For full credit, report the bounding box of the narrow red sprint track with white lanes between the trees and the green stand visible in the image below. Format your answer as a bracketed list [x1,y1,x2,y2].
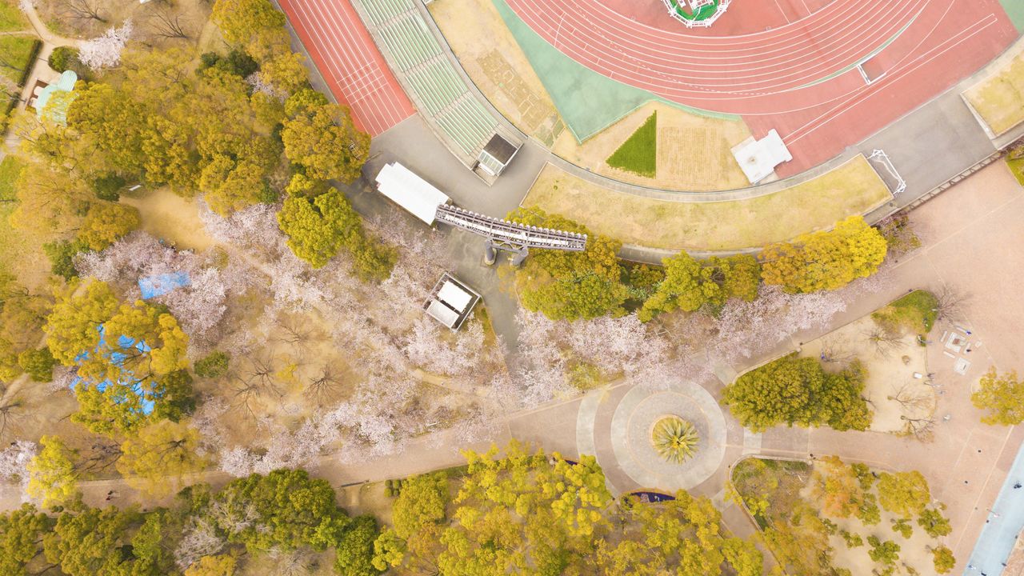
[279,0,417,142]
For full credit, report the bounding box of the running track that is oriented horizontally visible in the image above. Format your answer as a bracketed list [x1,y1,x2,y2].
[492,0,1024,182]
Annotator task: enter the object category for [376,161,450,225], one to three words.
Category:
house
